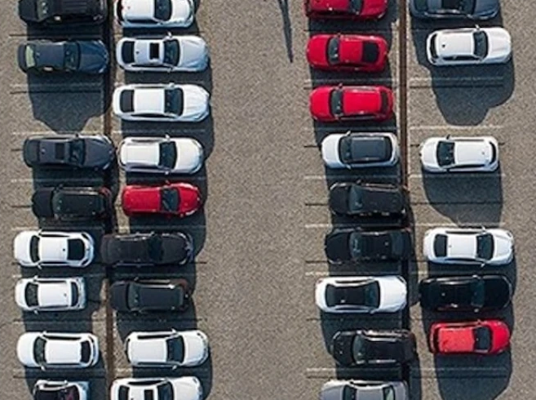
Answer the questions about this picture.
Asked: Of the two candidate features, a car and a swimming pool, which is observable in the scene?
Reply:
car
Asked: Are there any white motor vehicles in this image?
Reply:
Yes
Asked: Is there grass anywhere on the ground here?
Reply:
No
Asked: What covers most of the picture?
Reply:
paved ground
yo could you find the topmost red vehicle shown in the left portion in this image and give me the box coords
[120,179,203,220]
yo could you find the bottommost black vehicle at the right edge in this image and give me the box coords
[419,273,513,314]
